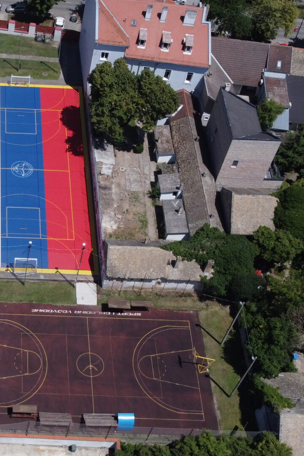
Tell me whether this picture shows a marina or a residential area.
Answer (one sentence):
This looks like a residential area.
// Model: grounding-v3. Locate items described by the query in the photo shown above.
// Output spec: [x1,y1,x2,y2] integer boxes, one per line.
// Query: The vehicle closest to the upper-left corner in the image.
[8,3,33,16]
